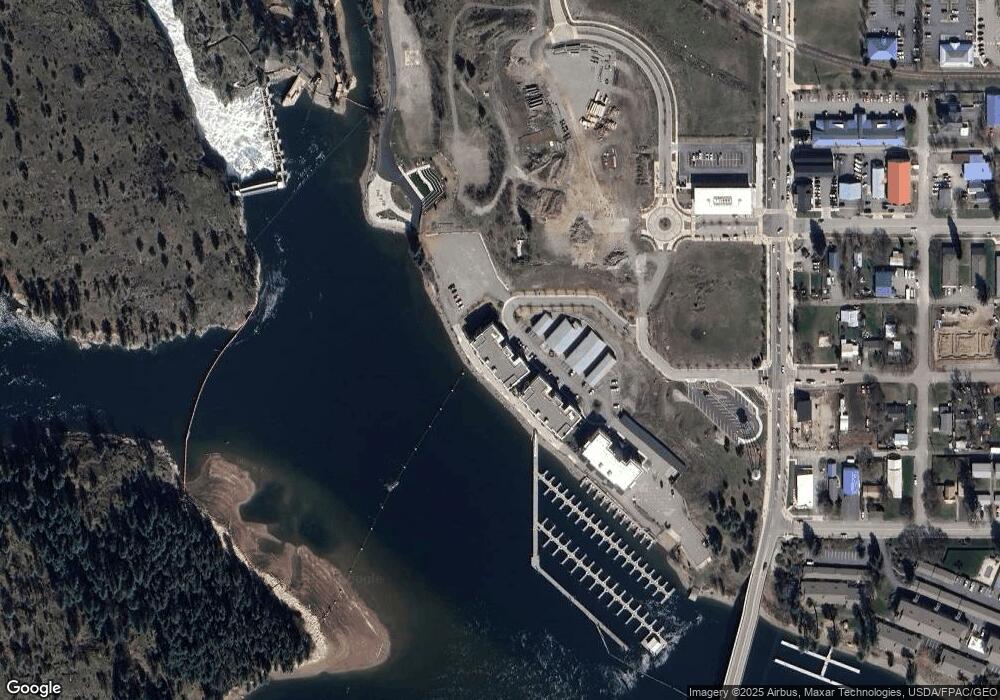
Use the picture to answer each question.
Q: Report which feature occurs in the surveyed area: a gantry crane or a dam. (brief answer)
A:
dam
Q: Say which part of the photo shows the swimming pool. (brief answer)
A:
bottom right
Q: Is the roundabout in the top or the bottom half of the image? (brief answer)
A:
top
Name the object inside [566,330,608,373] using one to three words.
shed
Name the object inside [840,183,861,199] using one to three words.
building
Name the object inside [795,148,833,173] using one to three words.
house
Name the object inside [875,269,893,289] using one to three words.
building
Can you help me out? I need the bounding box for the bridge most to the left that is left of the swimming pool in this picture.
[722,539,776,700]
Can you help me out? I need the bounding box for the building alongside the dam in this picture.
[282,75,308,107]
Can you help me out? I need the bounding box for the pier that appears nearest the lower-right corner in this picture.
[774,640,866,697]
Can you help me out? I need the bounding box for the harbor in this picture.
[531,429,676,649]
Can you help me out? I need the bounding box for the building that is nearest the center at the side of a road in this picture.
[471,326,529,390]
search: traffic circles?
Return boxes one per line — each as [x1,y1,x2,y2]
[641,198,691,253]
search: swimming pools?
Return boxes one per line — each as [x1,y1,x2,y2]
[977,556,1000,587]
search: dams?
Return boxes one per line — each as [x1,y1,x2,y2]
[232,85,291,198]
